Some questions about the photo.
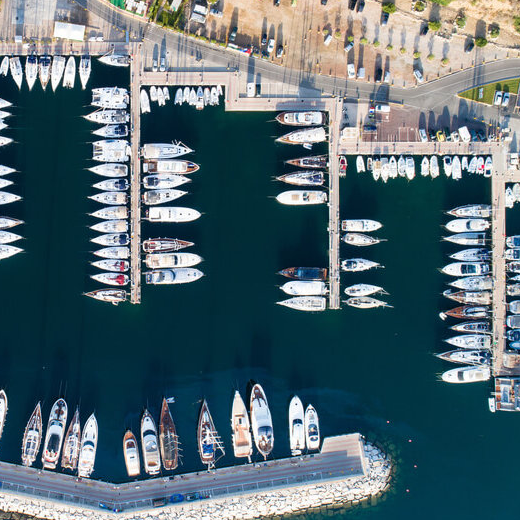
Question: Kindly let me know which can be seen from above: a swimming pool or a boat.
boat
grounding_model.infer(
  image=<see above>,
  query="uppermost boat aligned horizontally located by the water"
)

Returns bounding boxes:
[97,51,129,67]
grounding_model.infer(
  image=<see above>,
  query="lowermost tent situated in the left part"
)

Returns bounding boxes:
[52,21,86,44]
